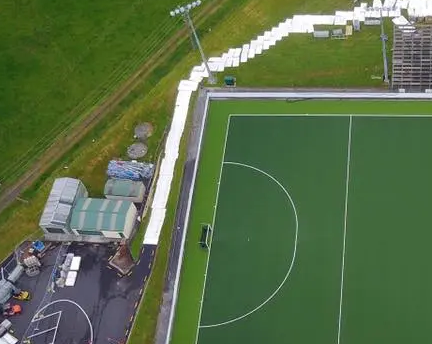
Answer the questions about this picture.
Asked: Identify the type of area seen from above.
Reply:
sports ground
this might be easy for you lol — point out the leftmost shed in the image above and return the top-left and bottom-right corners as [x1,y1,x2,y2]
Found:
[40,176,92,243]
